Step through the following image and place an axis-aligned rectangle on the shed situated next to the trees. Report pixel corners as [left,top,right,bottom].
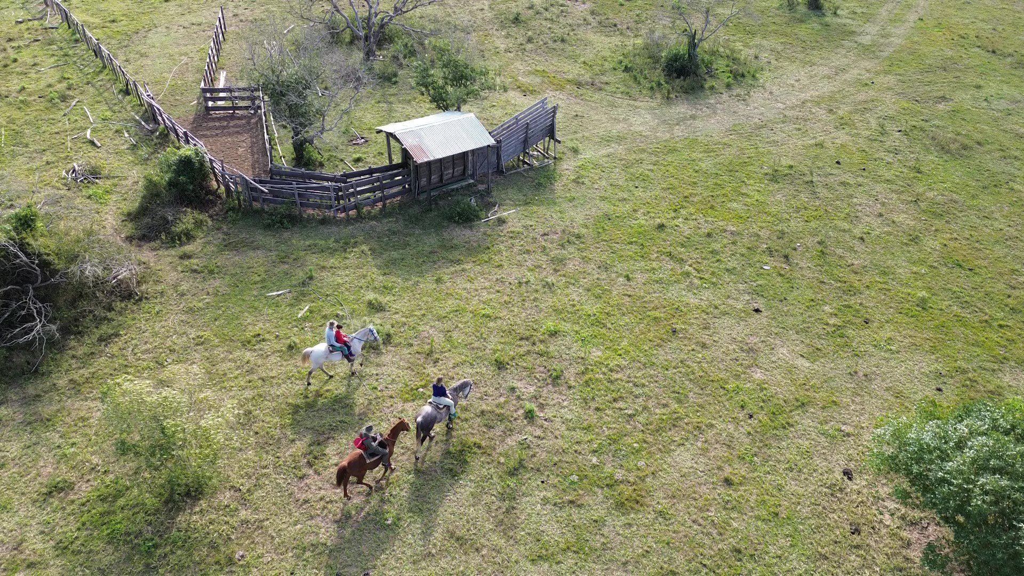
[371,112,504,210]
